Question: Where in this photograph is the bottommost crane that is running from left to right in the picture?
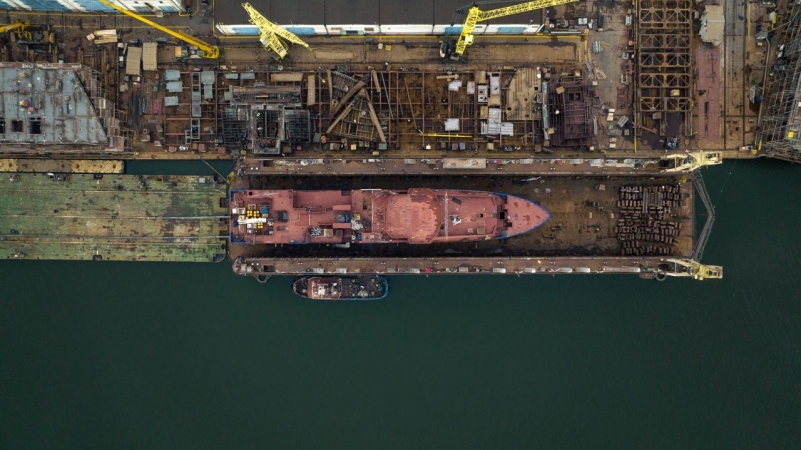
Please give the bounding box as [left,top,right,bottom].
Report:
[657,256,724,280]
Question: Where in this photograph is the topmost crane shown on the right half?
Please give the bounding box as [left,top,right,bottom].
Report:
[440,0,586,64]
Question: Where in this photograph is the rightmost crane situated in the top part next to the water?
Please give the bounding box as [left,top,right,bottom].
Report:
[657,149,724,172]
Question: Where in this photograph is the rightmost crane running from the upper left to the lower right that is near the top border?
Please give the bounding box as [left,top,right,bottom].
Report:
[238,0,312,67]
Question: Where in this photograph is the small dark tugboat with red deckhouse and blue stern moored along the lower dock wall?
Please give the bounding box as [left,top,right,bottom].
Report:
[293,275,389,301]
